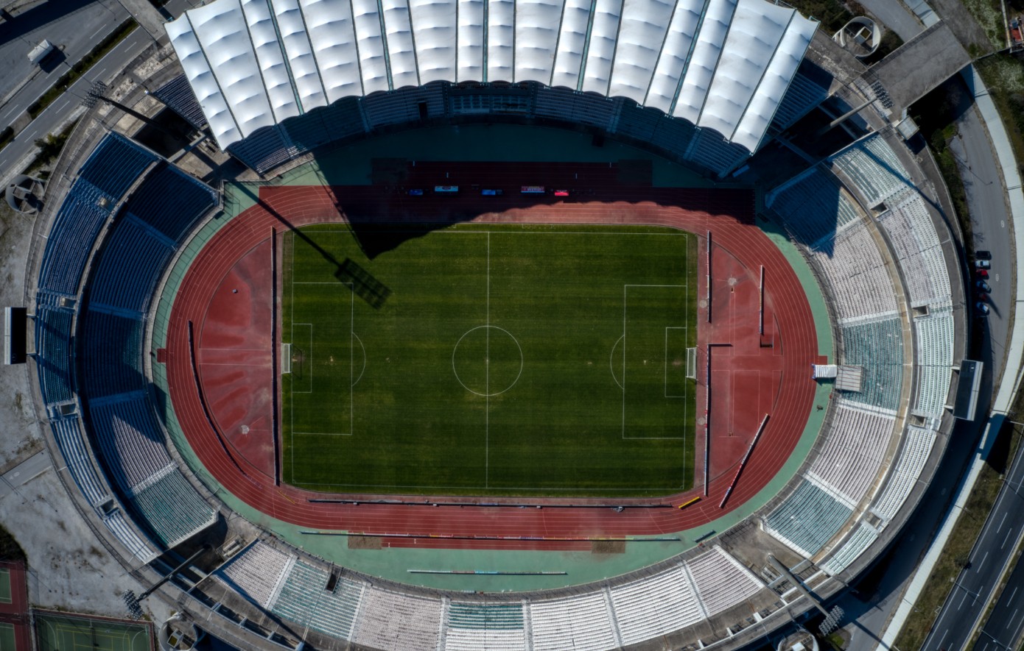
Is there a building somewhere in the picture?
No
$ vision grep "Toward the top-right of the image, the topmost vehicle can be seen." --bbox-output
[1009,19,1022,42]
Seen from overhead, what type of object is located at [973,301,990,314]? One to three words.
vehicle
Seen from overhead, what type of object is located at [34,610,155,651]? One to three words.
sports court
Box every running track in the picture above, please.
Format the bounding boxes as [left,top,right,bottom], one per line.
[157,161,827,551]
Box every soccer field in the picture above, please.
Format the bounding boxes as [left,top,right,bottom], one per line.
[282,223,699,497]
